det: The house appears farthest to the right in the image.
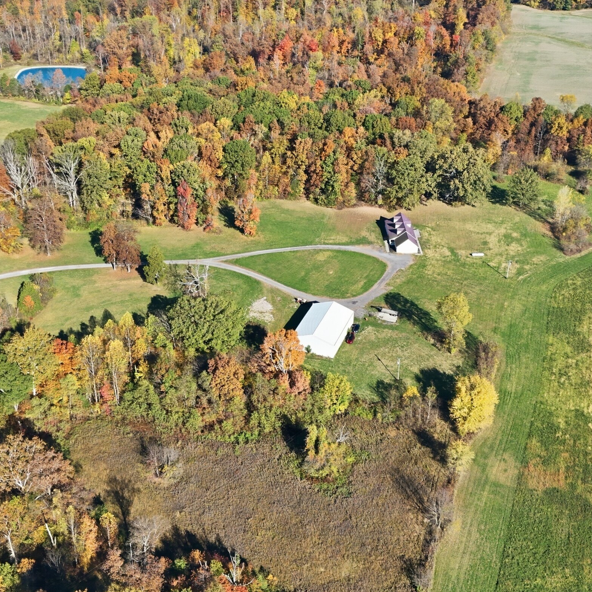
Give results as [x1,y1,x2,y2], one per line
[383,211,419,253]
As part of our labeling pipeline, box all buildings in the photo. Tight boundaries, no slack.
[294,299,355,358]
[383,211,419,253]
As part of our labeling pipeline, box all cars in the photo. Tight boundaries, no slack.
[351,322,360,332]
[346,332,356,343]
